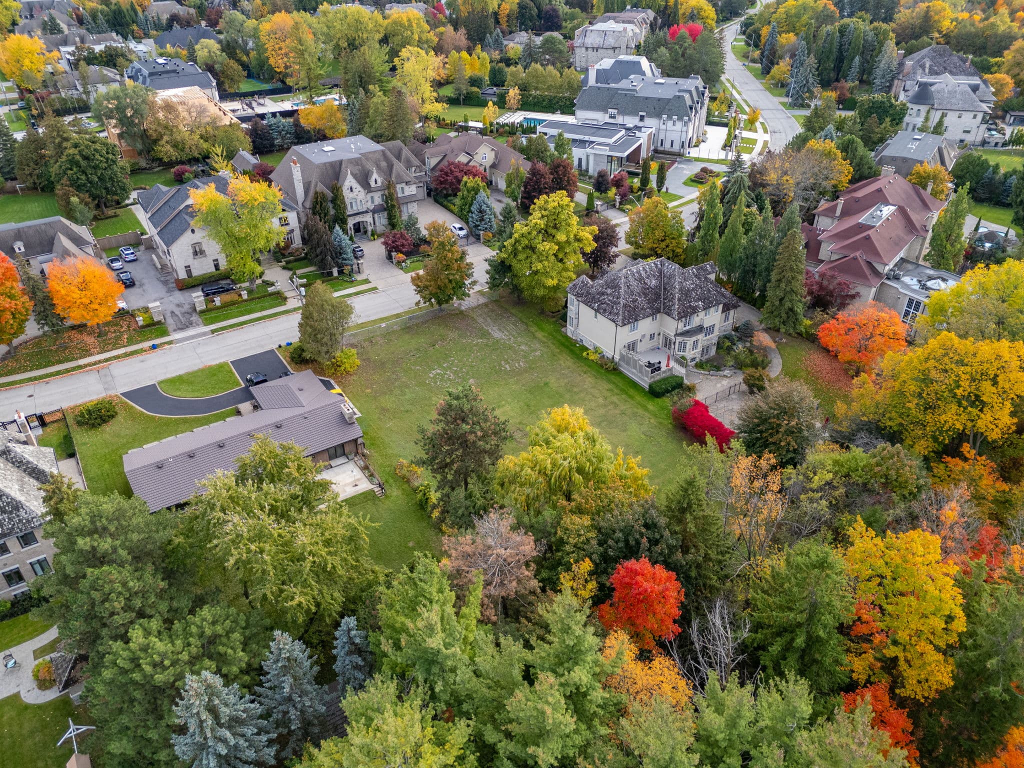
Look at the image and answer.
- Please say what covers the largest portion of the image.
trees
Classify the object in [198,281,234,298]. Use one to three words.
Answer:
car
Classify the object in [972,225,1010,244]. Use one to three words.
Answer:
building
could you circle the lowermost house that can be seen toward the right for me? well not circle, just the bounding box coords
[565,250,742,389]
